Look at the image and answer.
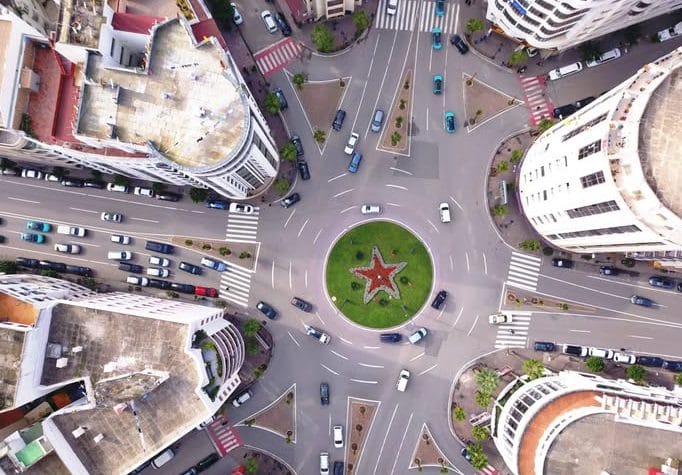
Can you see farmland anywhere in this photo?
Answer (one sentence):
No, there's no farmland in this view.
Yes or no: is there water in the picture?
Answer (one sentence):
No, there's no water in this view.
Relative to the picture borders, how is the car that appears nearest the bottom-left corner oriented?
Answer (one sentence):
In this picture, the car that appears nearest the bottom-left corner is oriented diagonally.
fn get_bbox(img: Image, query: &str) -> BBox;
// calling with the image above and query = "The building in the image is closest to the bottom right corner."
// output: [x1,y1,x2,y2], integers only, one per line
[497,374,682,475]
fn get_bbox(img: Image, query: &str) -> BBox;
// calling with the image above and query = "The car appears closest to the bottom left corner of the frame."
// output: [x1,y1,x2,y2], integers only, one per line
[152,448,175,469]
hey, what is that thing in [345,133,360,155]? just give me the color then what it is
white car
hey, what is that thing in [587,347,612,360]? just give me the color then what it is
white vehicle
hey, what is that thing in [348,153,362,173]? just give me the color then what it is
blue vehicle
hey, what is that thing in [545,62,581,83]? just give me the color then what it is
white vehicle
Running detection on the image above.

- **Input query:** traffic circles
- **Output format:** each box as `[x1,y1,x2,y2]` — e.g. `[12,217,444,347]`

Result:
[304,199,454,346]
